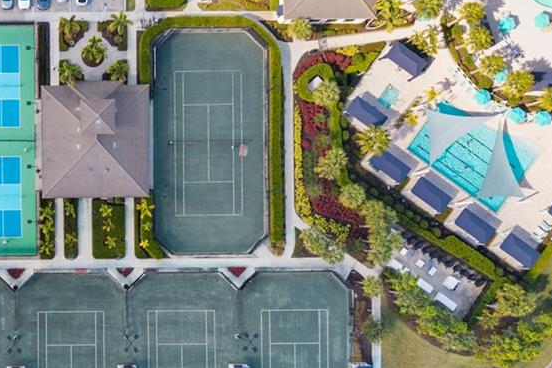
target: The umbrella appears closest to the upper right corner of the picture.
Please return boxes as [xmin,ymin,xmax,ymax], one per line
[530,12,549,29]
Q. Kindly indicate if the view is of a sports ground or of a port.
sports ground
